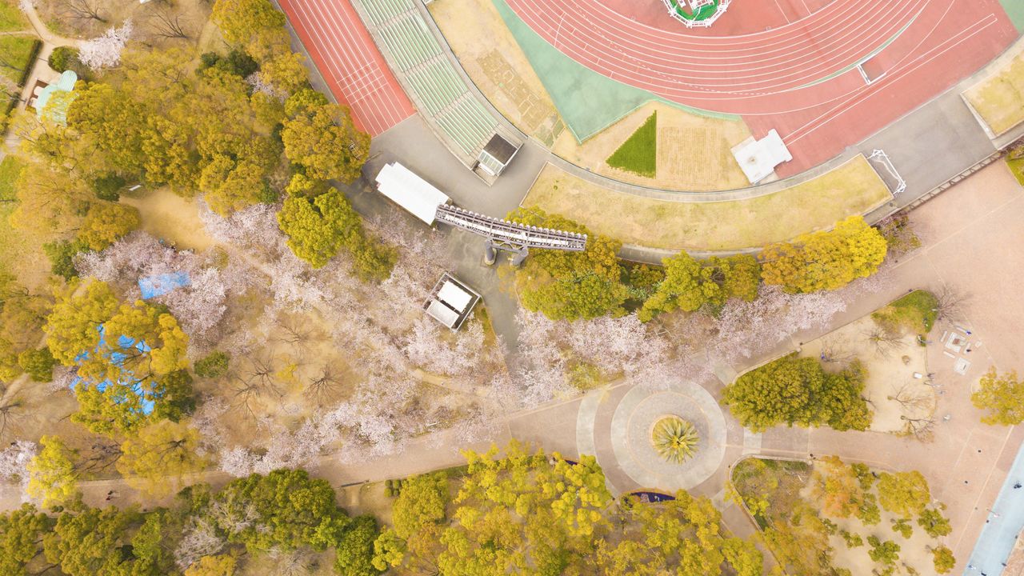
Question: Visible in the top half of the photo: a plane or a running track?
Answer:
running track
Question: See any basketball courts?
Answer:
No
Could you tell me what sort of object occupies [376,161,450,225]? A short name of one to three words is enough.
house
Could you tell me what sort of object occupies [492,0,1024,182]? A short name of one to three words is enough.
running track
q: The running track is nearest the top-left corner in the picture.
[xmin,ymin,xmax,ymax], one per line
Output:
[279,0,417,142]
